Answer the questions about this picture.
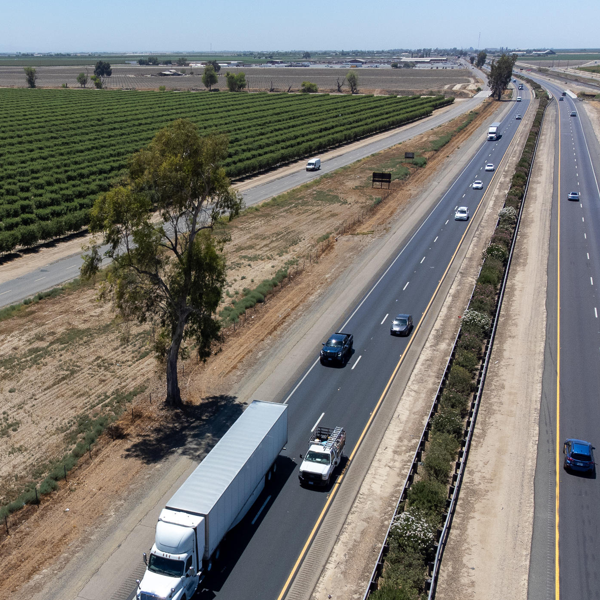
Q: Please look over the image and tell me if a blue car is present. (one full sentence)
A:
Yes, the frame does contain a blue car.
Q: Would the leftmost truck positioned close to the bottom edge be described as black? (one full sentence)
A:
No, the leftmost truck positioned close to the bottom edge is actually white.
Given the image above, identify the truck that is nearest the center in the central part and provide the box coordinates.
[320,333,357,365]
